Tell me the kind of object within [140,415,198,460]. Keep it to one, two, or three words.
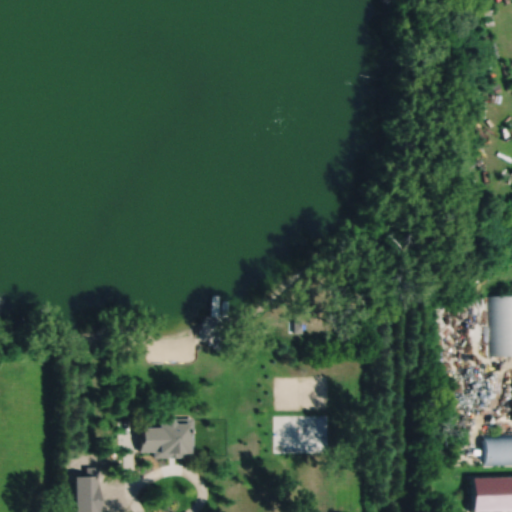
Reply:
house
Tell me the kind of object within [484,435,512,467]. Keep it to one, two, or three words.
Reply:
building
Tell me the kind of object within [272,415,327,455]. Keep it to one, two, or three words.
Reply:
basketball court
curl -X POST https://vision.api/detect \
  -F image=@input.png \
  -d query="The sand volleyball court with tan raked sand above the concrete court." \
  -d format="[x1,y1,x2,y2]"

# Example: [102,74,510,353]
[273,377,328,412]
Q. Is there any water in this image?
Yes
